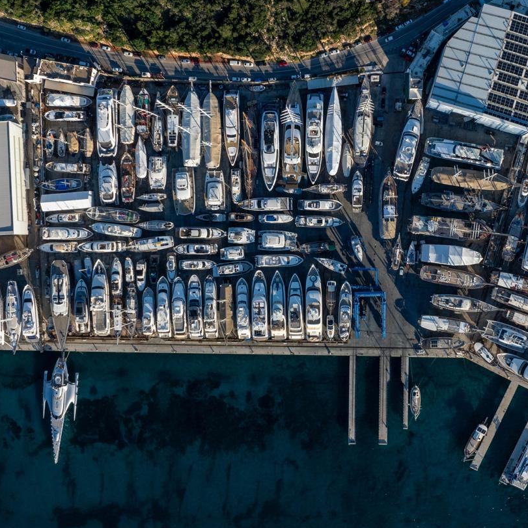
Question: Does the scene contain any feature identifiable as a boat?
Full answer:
Yes, a boat can be made out from above.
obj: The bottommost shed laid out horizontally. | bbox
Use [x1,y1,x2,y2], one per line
[40,190,97,213]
